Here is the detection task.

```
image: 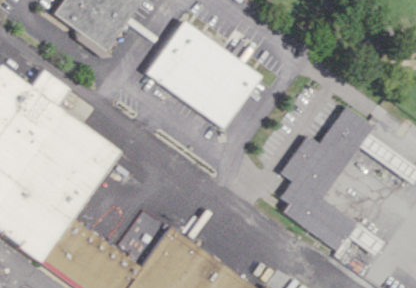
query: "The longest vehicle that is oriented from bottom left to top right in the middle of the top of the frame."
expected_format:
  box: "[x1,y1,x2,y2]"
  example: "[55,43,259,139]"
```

[240,44,255,62]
